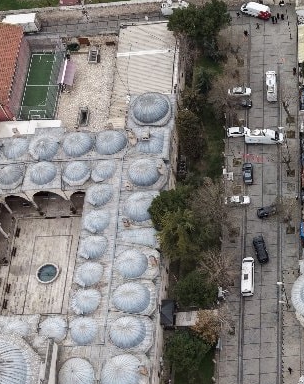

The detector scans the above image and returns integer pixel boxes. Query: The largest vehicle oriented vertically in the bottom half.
[238,254,254,294]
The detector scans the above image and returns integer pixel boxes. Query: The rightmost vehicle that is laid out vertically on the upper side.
[263,68,277,101]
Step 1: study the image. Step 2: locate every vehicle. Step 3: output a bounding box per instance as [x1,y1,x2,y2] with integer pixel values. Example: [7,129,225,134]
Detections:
[241,0,272,17]
[251,234,268,263]
[241,125,284,144]
[253,201,278,216]
[238,254,254,294]
[224,192,250,205]
[227,84,251,96]
[241,161,253,184]
[228,97,252,108]
[225,125,244,137]
[263,68,277,101]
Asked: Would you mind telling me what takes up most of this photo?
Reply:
buildings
